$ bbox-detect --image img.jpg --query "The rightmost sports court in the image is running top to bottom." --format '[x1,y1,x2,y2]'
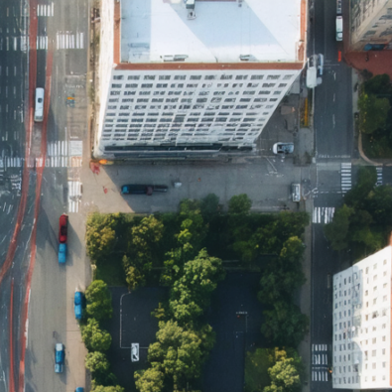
[216,265,262,392]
